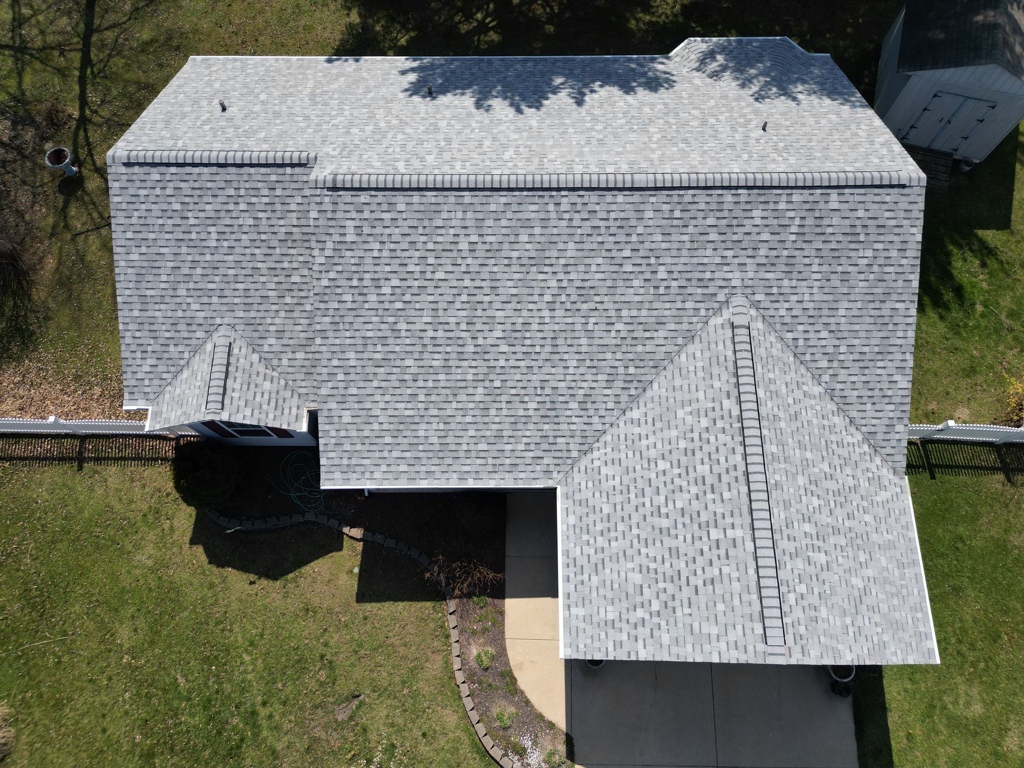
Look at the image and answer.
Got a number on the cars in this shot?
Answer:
0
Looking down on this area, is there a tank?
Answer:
No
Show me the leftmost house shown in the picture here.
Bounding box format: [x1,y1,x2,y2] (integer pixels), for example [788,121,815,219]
[107,34,940,665]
